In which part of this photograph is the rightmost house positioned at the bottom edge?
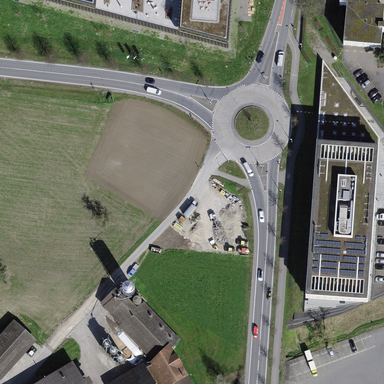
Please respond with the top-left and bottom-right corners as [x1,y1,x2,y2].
[146,345,197,384]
